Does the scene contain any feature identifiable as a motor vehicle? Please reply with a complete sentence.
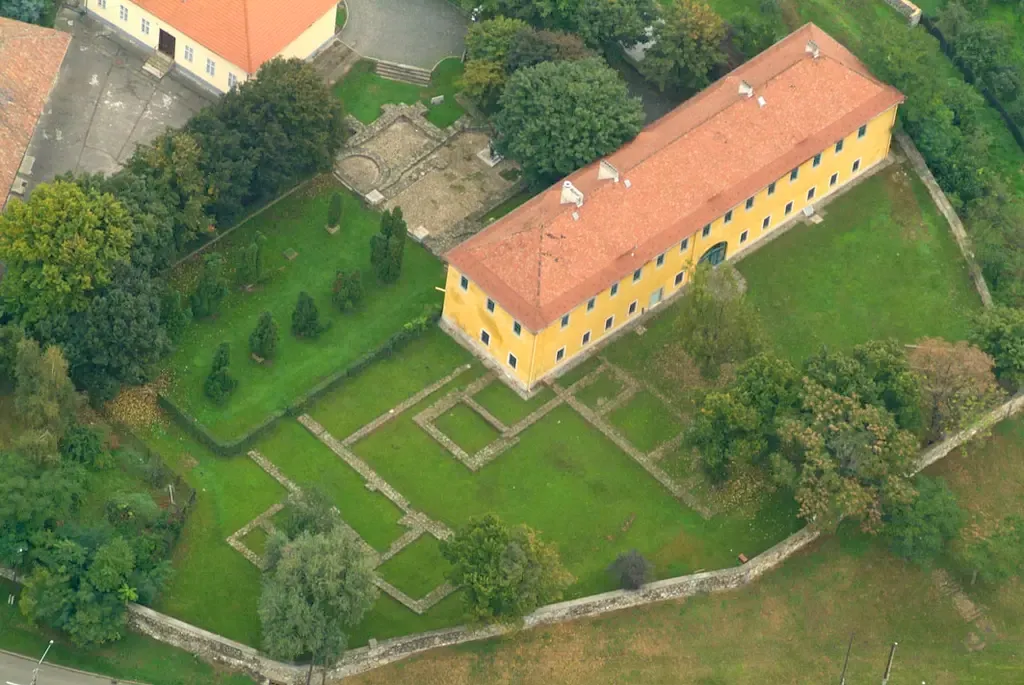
No, the frame has no motor vehicle in it.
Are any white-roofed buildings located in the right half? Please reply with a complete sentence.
No, there's no white-roofed building to be seen in the right half.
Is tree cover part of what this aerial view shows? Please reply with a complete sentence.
Yes, there is tree cover in the image.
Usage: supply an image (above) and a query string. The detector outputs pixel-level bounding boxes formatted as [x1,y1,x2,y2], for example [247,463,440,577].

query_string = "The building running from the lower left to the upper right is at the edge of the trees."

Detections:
[436,22,907,389]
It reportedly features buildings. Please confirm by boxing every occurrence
[436,22,907,389]
[0,17,71,219]
[83,0,351,100]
